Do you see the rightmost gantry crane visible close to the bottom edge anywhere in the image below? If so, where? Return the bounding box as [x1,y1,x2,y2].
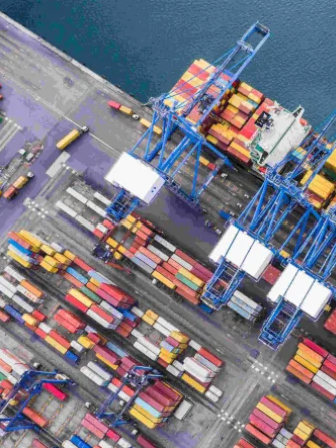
[89,361,168,437]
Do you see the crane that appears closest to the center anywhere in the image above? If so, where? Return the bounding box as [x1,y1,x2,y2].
[83,212,159,274]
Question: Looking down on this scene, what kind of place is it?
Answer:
port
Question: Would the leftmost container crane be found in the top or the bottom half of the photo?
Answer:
bottom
